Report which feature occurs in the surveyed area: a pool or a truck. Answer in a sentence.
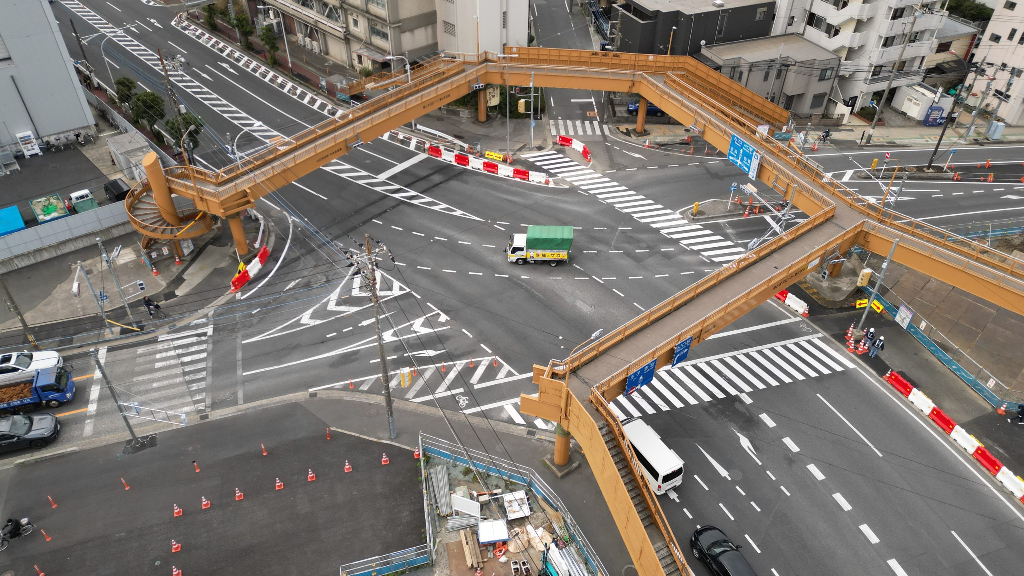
Looking from above, you can make out a truck.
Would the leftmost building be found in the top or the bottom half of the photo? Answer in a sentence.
The top half of the photo is where the leftmost building is.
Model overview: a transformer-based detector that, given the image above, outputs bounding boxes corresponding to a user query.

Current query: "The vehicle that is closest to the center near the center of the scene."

[508,227,575,265]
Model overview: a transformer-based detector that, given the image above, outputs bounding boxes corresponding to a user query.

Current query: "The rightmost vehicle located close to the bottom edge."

[693,527,765,576]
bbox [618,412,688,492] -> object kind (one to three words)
van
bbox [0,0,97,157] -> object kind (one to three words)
building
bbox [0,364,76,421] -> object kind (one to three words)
truck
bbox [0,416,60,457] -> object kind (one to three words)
car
